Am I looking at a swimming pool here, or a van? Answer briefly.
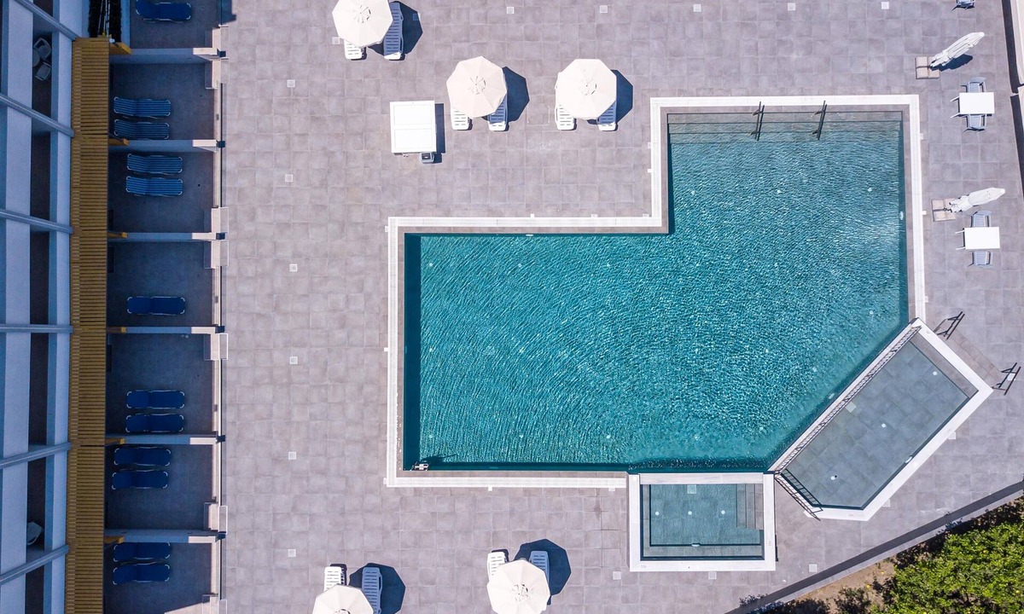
swimming pool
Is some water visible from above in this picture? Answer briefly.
Yes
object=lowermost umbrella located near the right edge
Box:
[932,191,999,222]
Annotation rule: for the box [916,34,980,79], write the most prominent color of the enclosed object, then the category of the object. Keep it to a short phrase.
white umbrella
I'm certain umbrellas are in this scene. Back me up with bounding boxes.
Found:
[488,556,550,614]
[314,582,374,614]
[446,57,508,119]
[916,34,980,79]
[332,0,394,48]
[558,60,616,118]
[932,191,999,222]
